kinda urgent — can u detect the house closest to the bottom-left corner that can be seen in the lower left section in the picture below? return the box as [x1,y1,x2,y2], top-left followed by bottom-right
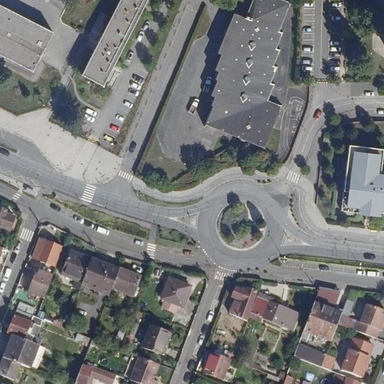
[0,356,26,382]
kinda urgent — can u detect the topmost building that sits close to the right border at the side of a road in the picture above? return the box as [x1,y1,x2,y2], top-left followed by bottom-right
[342,144,384,216]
